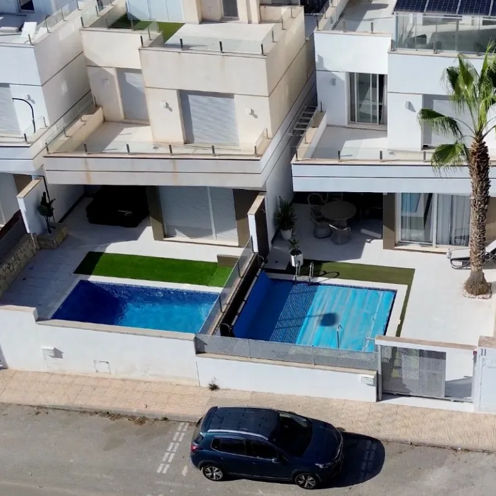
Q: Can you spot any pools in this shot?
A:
Yes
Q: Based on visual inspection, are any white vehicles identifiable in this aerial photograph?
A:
No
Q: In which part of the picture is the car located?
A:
bottom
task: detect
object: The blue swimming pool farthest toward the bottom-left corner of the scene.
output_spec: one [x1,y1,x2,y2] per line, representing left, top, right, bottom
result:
[42,272,219,328]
